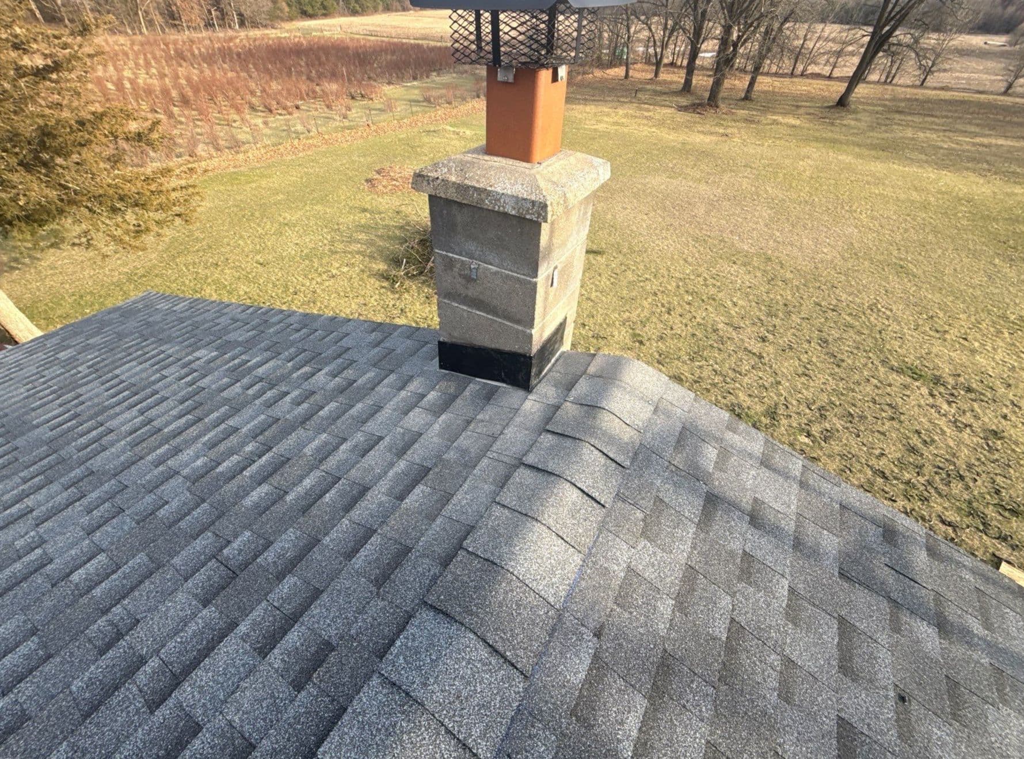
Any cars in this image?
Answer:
No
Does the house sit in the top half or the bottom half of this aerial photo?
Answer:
bottom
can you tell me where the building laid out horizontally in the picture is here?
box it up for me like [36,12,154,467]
[0,291,1024,759]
